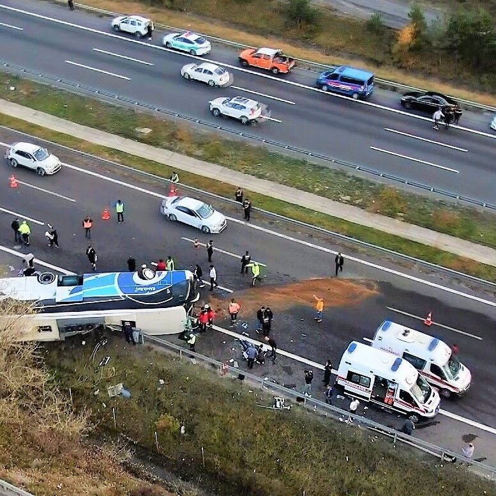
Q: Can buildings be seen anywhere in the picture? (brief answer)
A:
No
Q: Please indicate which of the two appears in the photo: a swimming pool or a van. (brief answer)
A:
van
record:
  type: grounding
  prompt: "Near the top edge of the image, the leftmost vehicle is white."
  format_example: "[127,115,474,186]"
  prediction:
[108,14,156,41]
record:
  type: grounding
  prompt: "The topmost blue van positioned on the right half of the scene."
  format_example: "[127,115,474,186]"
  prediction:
[315,67,379,103]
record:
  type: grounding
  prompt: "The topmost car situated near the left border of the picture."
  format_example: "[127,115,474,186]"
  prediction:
[4,141,61,177]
